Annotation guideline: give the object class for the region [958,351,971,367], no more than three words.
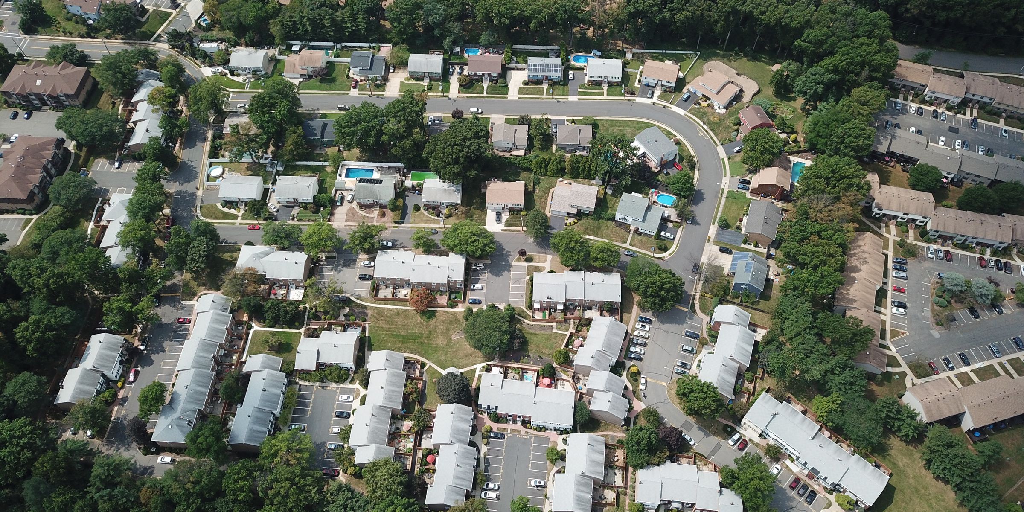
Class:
vehicle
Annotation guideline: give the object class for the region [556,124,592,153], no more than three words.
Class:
house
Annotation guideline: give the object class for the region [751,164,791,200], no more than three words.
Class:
house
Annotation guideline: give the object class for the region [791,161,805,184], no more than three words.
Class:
swimming pool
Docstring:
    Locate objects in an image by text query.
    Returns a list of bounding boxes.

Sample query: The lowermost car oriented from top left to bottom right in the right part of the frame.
[682,431,697,447]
